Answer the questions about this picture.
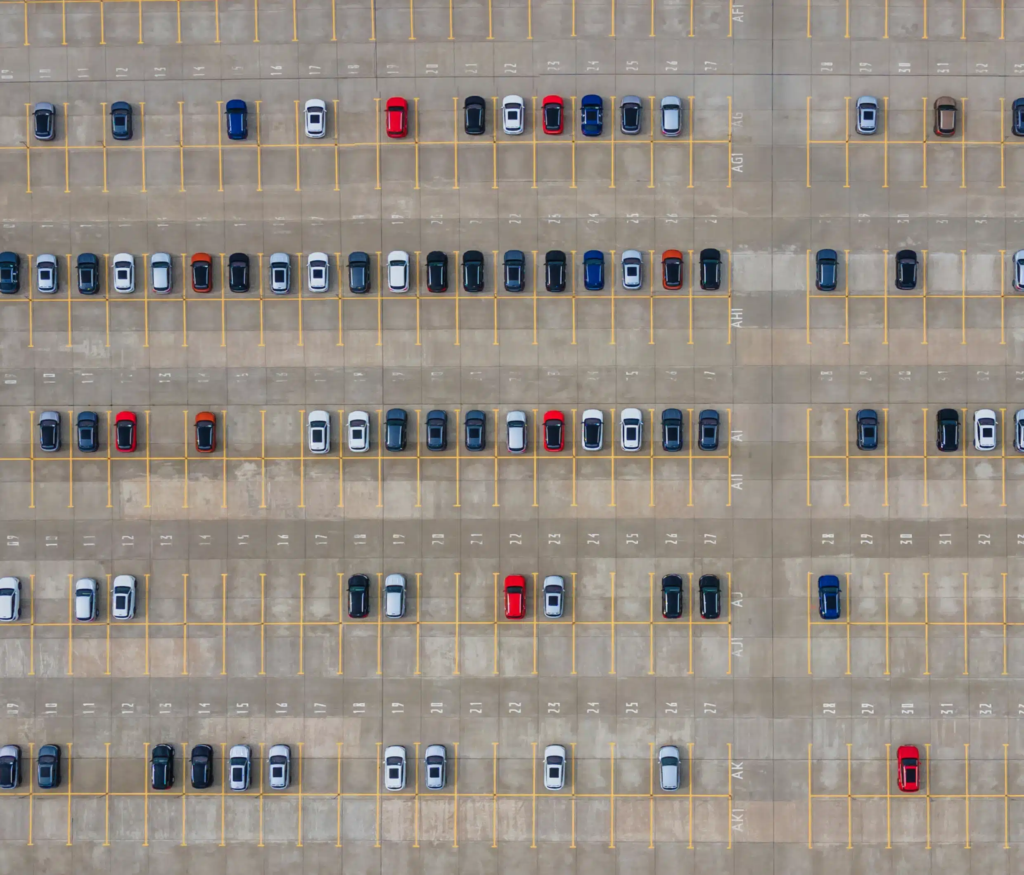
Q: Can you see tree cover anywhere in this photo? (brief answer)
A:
No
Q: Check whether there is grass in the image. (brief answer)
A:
No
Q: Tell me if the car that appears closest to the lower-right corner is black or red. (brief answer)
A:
red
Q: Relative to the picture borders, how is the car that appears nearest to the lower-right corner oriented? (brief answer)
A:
vertically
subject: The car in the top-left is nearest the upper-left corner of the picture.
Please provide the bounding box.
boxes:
[32,103,57,141]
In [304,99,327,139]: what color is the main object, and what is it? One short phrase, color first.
white car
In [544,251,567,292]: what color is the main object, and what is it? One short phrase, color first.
black car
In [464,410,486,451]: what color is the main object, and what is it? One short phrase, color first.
blue car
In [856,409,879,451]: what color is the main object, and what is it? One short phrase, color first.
blue car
